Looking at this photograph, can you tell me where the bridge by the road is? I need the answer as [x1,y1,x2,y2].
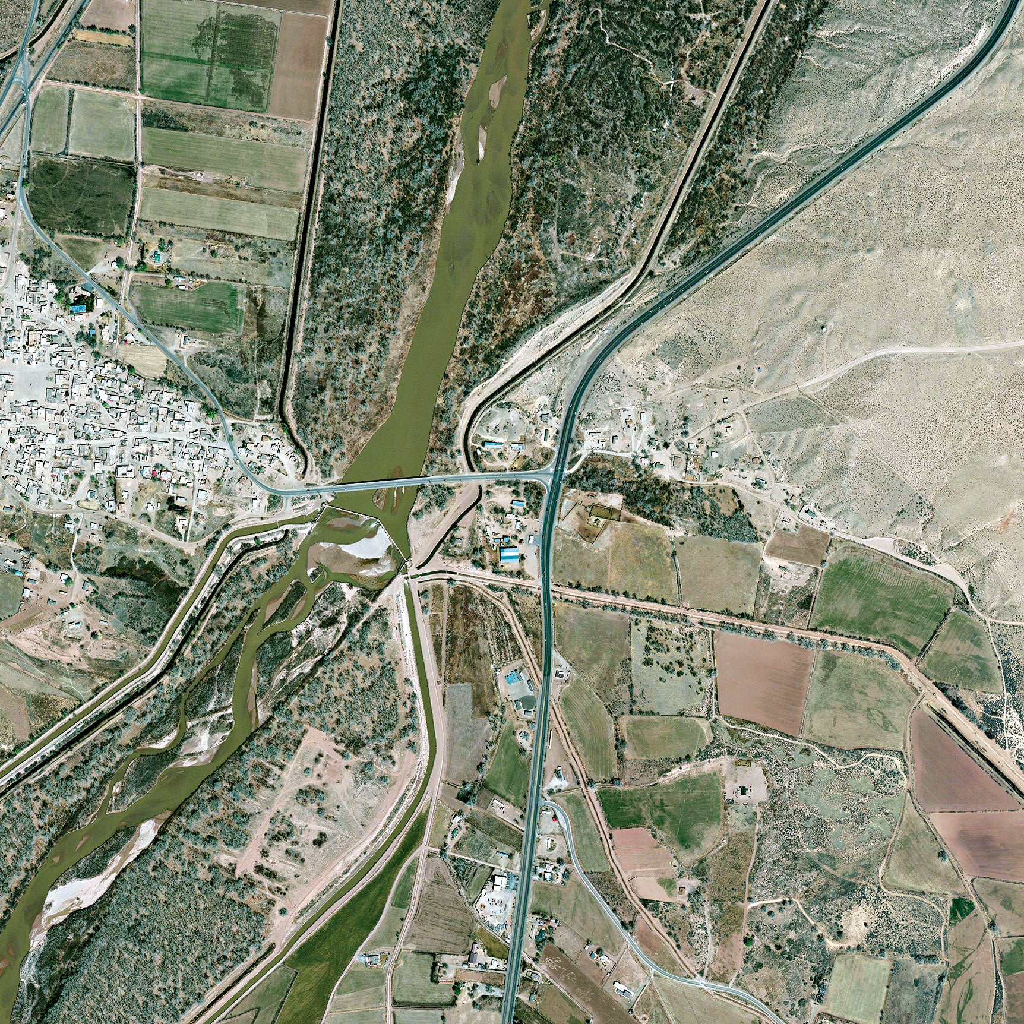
[327,479,426,494]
